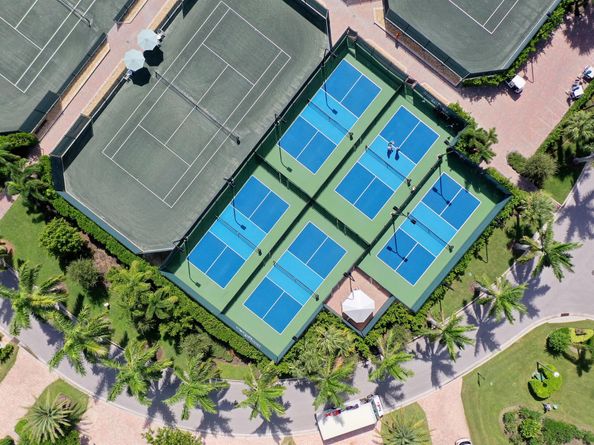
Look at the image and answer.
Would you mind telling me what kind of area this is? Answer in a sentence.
This image shows a sports ground.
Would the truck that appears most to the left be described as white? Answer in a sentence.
Yes, the truck that appears most to the left is indeed white.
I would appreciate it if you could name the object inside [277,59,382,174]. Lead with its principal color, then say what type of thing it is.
blue sports court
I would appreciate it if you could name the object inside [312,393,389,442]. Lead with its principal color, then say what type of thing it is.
white truck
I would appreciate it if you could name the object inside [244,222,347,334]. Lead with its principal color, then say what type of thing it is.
blue sports court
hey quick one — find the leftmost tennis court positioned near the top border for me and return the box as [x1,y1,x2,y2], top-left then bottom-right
[0,0,128,135]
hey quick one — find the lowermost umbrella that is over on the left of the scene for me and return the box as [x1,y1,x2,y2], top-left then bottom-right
[124,49,146,71]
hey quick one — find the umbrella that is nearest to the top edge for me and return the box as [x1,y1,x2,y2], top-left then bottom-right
[137,29,158,51]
